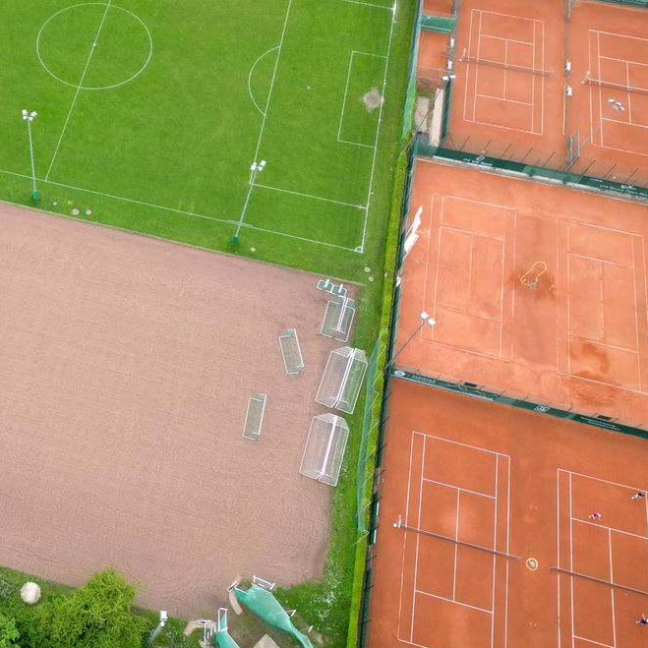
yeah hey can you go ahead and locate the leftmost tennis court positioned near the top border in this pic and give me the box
[412,0,459,106]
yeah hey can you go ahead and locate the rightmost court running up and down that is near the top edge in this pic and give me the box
[565,0,648,188]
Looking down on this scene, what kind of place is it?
sports ground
